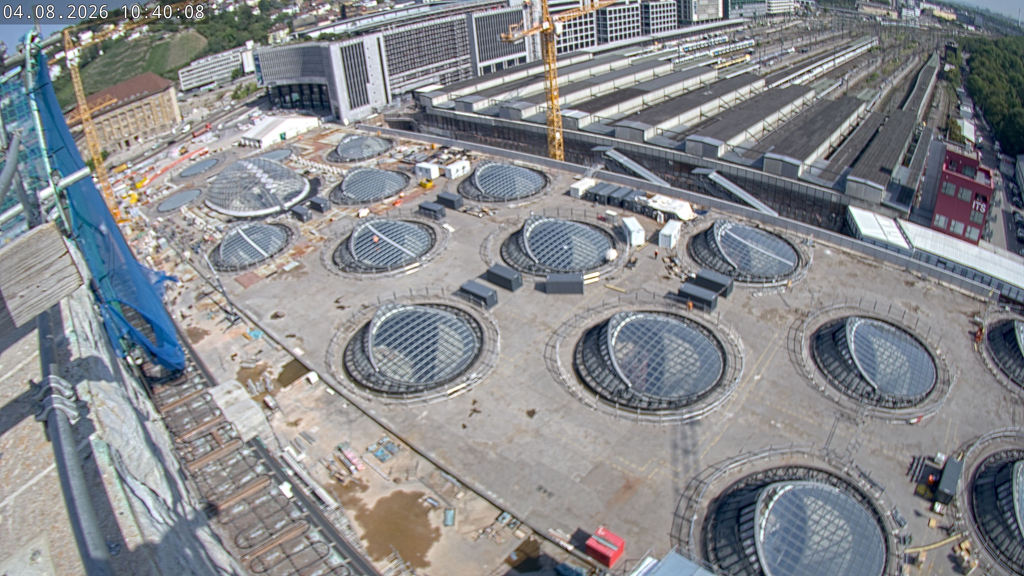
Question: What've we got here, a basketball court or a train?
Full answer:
It is a train that can be seen here.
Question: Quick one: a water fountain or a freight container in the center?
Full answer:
Looking in the center, you will find a freight container.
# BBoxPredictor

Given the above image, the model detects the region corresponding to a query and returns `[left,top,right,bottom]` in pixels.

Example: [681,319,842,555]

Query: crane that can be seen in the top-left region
[48,0,228,220]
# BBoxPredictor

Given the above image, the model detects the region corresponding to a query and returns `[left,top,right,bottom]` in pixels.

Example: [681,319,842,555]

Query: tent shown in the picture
[230,110,319,149]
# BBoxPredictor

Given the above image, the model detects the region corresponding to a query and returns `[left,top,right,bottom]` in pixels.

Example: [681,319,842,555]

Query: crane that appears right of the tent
[513,0,634,161]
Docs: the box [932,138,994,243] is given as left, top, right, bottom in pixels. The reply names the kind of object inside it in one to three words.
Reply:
building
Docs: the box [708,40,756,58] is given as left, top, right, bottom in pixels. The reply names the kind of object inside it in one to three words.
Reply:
train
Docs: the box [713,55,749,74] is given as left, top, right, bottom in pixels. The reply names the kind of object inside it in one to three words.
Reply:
train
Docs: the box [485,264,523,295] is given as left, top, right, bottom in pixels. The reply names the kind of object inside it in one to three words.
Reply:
shipping container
